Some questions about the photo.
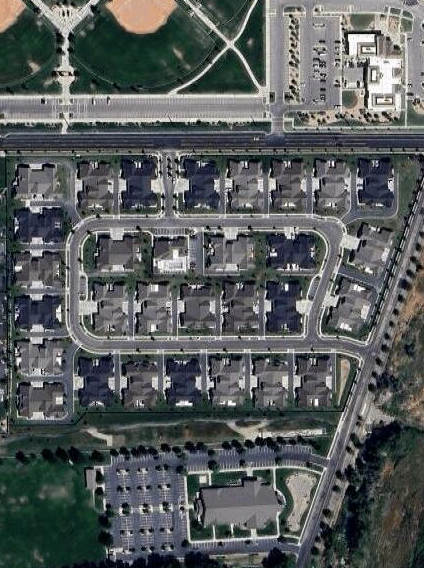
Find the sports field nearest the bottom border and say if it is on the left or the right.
left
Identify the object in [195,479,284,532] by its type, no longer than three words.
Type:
building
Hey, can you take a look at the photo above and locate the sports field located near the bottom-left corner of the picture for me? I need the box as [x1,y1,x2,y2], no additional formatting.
[0,454,111,568]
